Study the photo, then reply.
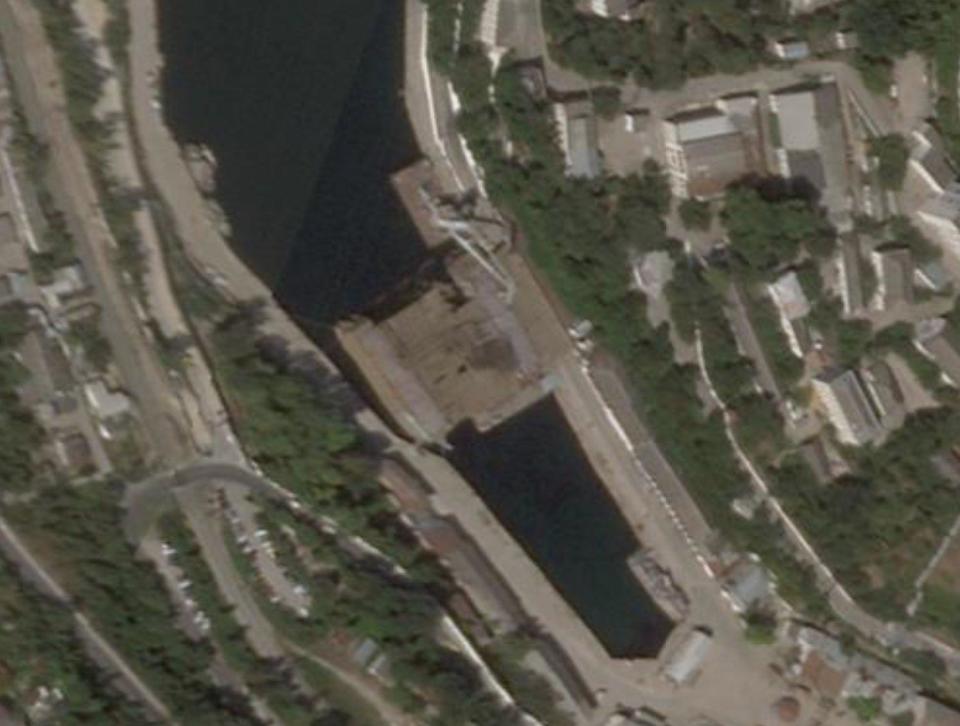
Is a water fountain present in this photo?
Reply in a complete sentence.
No, I can see no water fountain in this picture.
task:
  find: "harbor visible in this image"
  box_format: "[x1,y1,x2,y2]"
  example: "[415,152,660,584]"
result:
[129,0,806,726]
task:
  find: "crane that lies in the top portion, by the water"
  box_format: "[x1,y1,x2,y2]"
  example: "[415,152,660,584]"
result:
[416,186,515,296]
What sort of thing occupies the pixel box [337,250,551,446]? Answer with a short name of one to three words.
pier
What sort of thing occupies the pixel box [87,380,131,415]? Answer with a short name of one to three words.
house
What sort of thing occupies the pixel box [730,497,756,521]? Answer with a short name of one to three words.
shed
